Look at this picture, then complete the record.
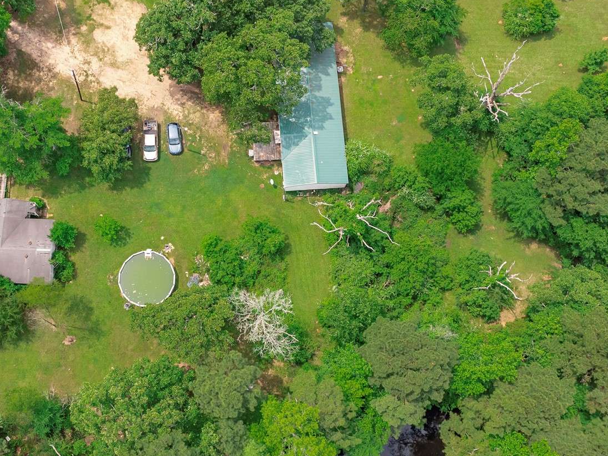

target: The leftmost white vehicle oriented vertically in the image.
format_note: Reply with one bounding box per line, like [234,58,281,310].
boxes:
[141,119,159,162]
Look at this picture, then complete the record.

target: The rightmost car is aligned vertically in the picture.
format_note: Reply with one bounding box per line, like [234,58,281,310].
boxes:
[167,122,182,157]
